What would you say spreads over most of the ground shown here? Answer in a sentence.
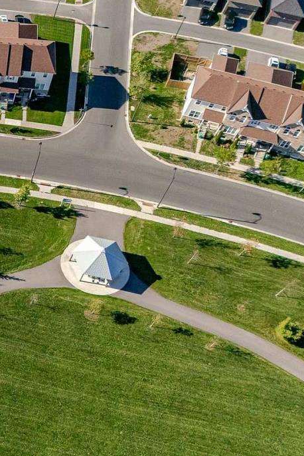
What you mostly see from above here is grass.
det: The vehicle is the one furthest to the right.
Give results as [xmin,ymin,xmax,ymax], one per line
[283,58,296,74]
